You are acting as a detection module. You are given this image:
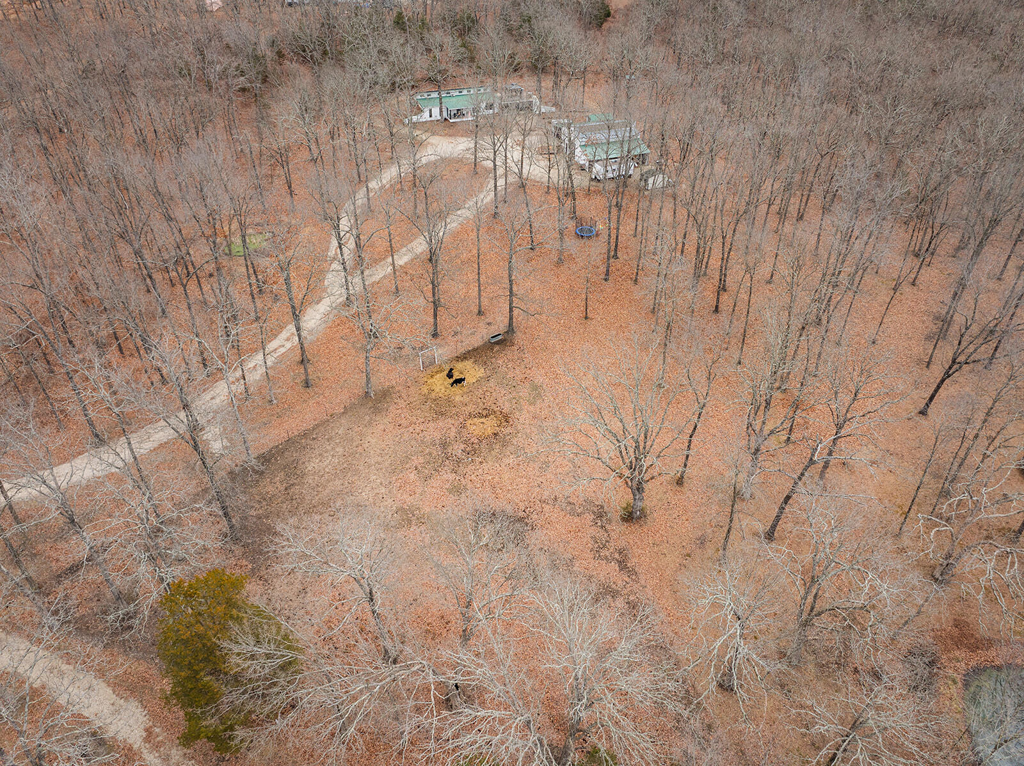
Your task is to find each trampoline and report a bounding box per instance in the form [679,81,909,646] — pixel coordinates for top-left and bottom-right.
[575,217,596,240]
